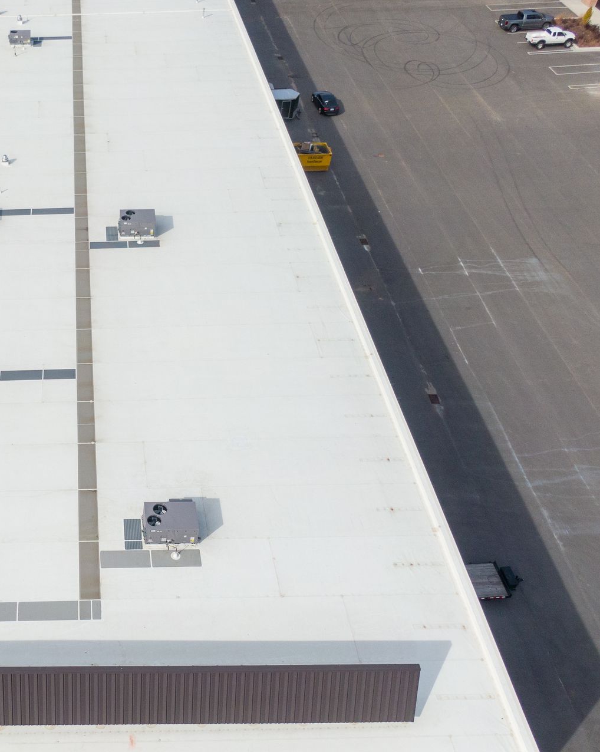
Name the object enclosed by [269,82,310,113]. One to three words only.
trailer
